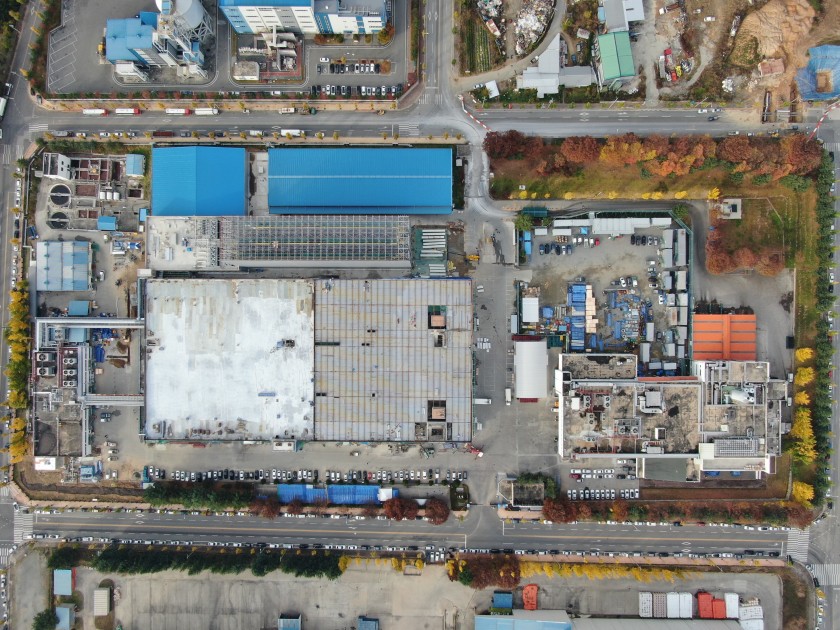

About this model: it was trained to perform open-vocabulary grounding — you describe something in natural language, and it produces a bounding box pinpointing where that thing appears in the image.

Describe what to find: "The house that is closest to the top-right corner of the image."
[753,58,785,78]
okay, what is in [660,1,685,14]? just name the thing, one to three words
vehicle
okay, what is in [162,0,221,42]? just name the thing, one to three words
silo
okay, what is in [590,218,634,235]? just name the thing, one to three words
shed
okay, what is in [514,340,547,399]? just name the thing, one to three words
building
